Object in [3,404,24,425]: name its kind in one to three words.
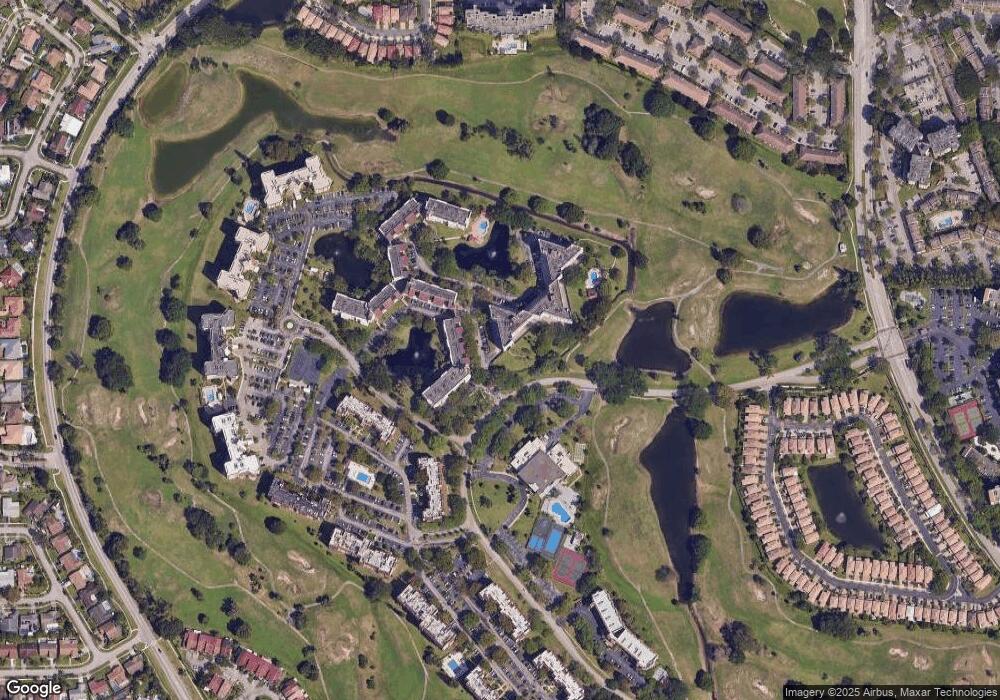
house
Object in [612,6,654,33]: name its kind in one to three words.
building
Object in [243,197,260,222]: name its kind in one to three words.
swimming pool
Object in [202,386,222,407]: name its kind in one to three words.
swimming pool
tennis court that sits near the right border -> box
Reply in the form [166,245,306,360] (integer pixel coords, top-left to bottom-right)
[949,399,987,440]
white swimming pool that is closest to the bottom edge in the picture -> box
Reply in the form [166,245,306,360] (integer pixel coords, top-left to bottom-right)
[442,652,469,679]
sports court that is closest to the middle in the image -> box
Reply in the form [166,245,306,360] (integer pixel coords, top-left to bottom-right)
[526,516,562,558]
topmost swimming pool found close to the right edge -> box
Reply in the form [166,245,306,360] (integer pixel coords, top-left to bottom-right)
[928,210,963,228]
